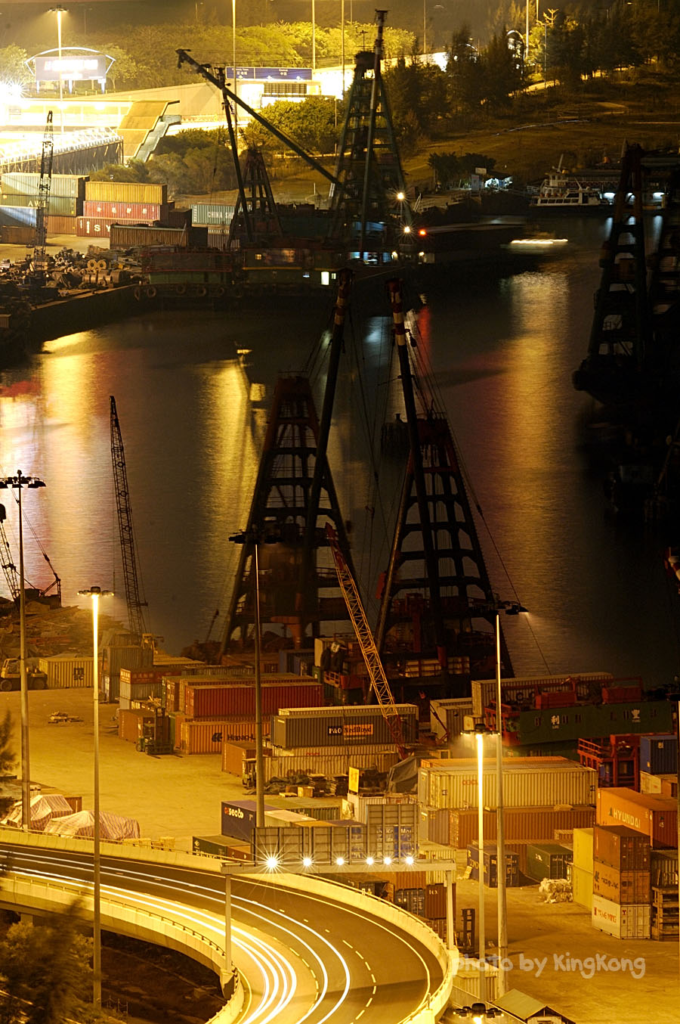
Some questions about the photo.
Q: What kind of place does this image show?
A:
port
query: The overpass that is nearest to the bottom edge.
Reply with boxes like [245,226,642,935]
[0,900,234,1005]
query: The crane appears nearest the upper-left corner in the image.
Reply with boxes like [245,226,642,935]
[19,110,56,266]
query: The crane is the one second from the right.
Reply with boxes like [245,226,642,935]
[107,391,166,621]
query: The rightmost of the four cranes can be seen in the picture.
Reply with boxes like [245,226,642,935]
[322,519,446,747]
